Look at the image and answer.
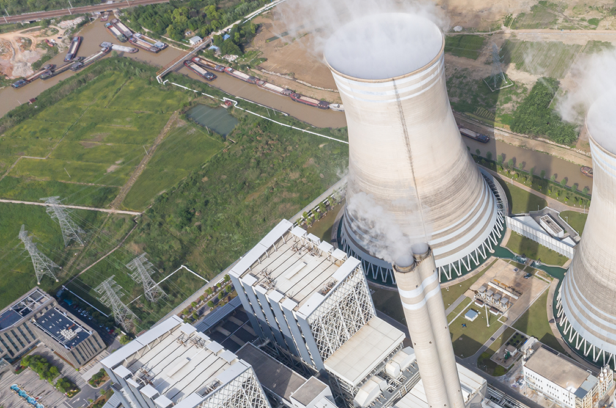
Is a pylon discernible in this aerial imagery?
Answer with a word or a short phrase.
Yes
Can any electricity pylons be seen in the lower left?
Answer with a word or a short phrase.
Yes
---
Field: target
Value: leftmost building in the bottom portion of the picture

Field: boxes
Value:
[0,287,57,361]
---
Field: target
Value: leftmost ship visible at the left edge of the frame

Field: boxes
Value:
[8,63,52,87]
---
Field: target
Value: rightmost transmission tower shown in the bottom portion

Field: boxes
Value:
[131,254,172,305]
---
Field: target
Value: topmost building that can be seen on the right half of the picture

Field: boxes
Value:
[539,214,564,240]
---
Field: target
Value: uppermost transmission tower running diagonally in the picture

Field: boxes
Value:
[37,199,89,249]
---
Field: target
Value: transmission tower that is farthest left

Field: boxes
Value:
[10,229,61,285]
